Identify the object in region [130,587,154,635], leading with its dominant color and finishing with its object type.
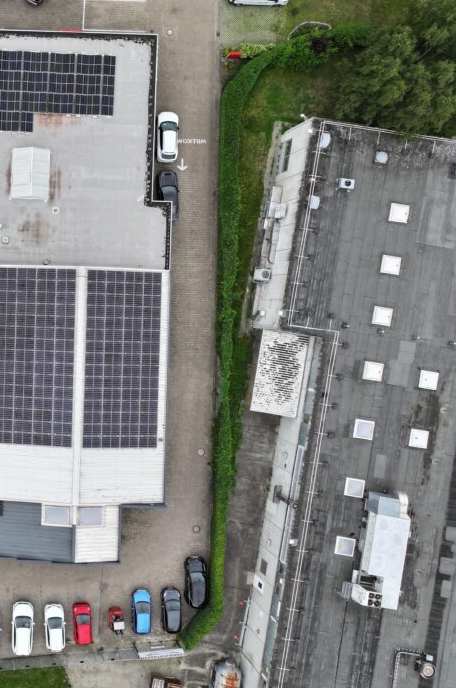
blue car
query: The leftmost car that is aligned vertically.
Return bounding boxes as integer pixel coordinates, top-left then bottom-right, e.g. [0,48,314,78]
[10,600,36,659]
